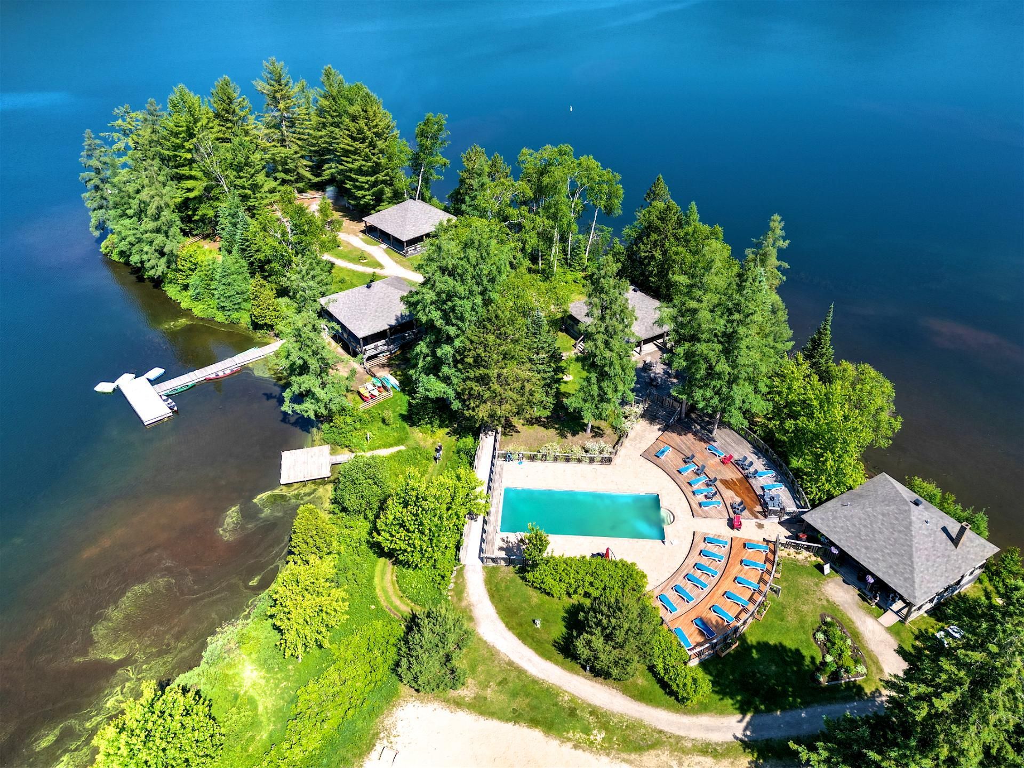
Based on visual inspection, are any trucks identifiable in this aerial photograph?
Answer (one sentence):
No, there is no truck in the image.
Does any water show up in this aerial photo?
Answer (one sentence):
Yes, the picture does contain water.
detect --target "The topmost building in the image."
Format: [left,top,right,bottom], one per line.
[362,199,451,258]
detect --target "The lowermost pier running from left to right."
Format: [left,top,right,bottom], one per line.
[279,446,353,486]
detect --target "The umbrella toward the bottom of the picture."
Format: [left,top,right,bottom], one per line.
[605,541,626,565]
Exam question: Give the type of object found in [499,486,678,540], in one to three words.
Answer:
swimming pool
